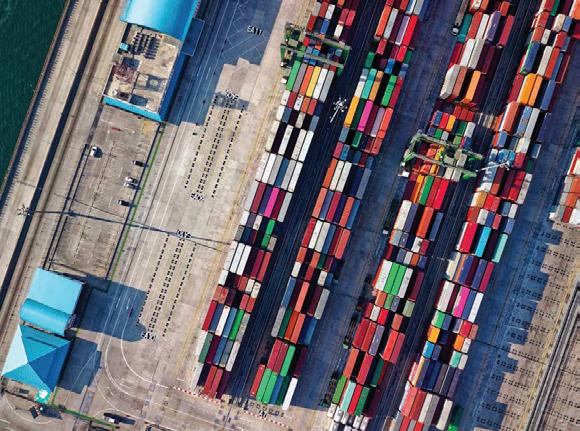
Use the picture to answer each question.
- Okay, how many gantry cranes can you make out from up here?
two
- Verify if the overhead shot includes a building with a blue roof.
Yes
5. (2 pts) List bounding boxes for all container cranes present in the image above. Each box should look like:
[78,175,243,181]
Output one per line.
[276,23,353,86]
[396,130,484,185]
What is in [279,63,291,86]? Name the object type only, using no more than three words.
vehicle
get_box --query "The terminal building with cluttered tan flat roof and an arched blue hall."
[99,0,215,126]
